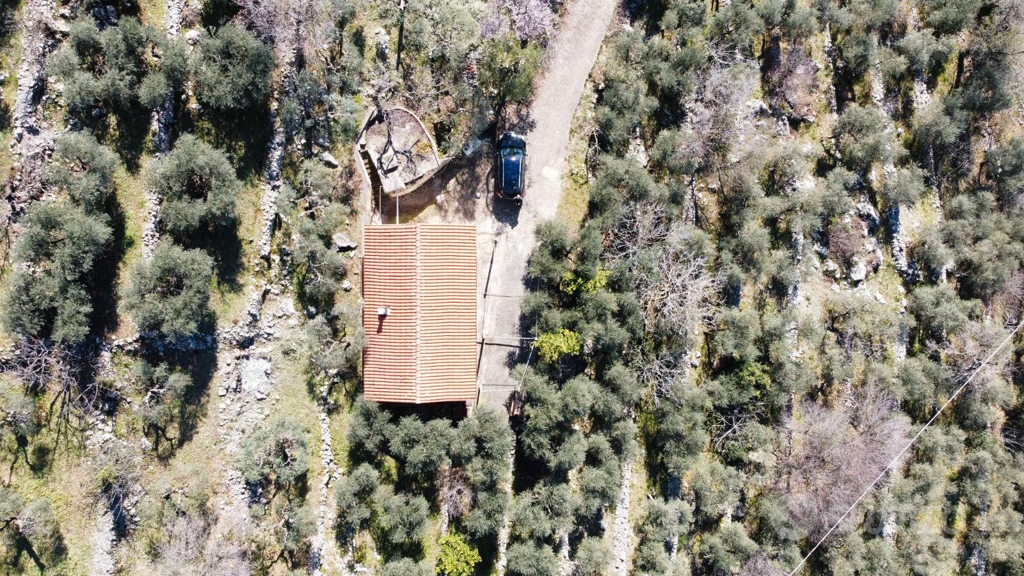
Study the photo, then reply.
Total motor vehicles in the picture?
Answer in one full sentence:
The photo contains exactly 1 motor vehicle.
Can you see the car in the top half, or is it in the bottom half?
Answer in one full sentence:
Seen from above, the car lies in the top half of the view.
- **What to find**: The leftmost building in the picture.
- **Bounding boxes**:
[362,223,478,406]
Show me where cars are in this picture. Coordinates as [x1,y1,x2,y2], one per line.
[495,133,528,201]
